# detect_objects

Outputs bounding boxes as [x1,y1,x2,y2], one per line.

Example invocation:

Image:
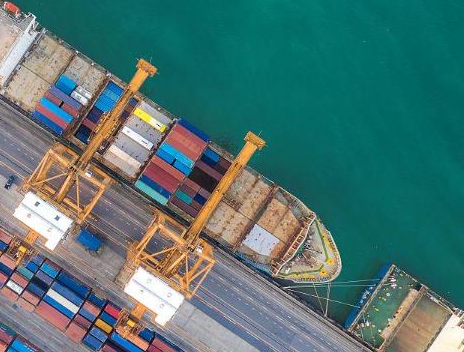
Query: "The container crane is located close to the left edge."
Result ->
[3,55,159,268]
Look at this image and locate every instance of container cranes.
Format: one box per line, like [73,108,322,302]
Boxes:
[111,129,273,342]
[3,55,159,268]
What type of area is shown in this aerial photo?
port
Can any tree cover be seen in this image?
No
